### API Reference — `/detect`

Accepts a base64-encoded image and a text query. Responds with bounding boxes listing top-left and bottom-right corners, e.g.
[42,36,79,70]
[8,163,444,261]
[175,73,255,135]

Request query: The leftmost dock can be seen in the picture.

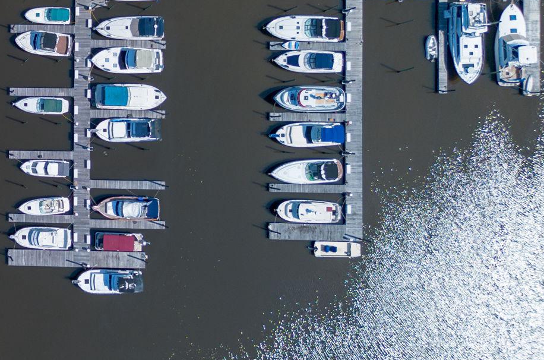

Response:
[8,0,166,269]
